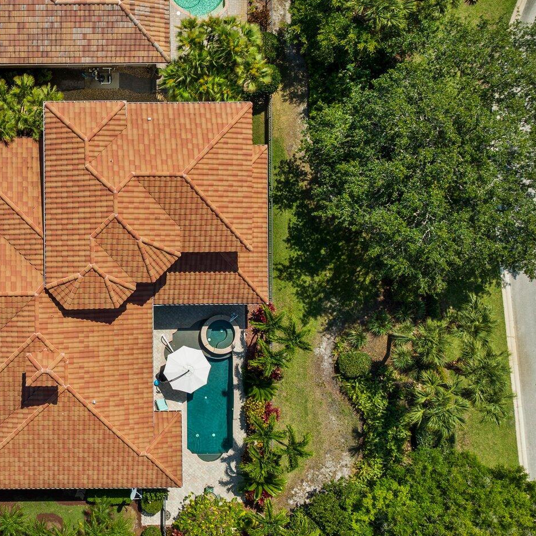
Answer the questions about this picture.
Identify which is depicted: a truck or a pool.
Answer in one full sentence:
Looking from above, you can make out a pool.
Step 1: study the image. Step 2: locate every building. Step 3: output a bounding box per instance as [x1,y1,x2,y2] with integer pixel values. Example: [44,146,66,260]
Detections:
[0,99,270,491]
[0,0,171,73]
